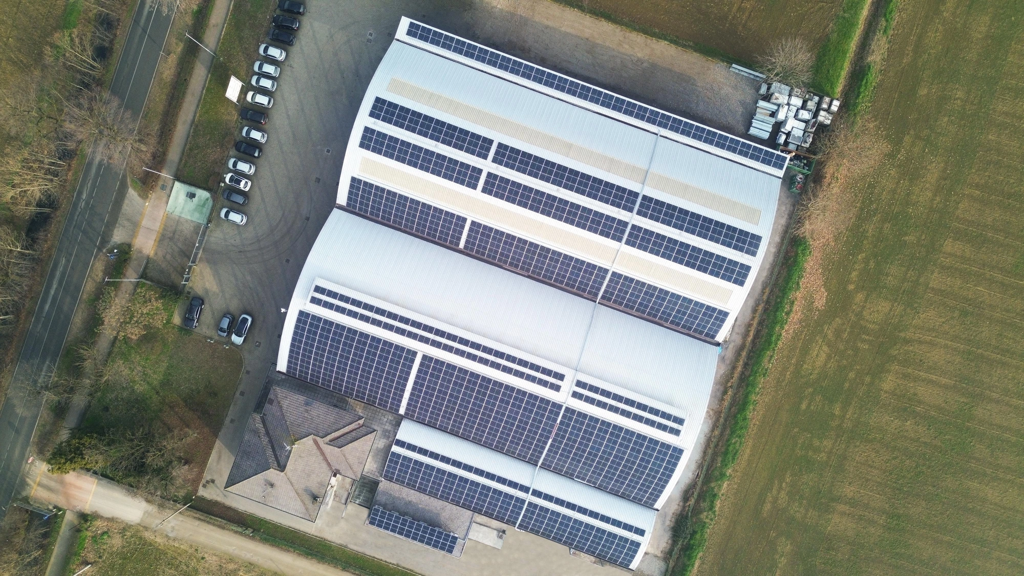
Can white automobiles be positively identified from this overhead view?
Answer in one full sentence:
Yes, the picture does show a white automobile.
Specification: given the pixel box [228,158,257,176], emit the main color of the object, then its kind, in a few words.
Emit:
white car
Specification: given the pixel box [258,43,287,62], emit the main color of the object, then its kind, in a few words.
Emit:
white car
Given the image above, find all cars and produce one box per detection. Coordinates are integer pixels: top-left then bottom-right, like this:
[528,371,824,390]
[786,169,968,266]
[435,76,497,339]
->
[258,43,287,62]
[239,106,270,126]
[225,174,253,192]
[242,127,269,144]
[250,74,278,93]
[267,28,297,47]
[272,13,301,33]
[252,60,281,79]
[184,297,205,329]
[235,141,263,158]
[246,90,275,109]
[221,189,249,206]
[220,208,249,225]
[217,313,235,338]
[232,313,254,345]
[228,158,257,176]
[277,0,307,17]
